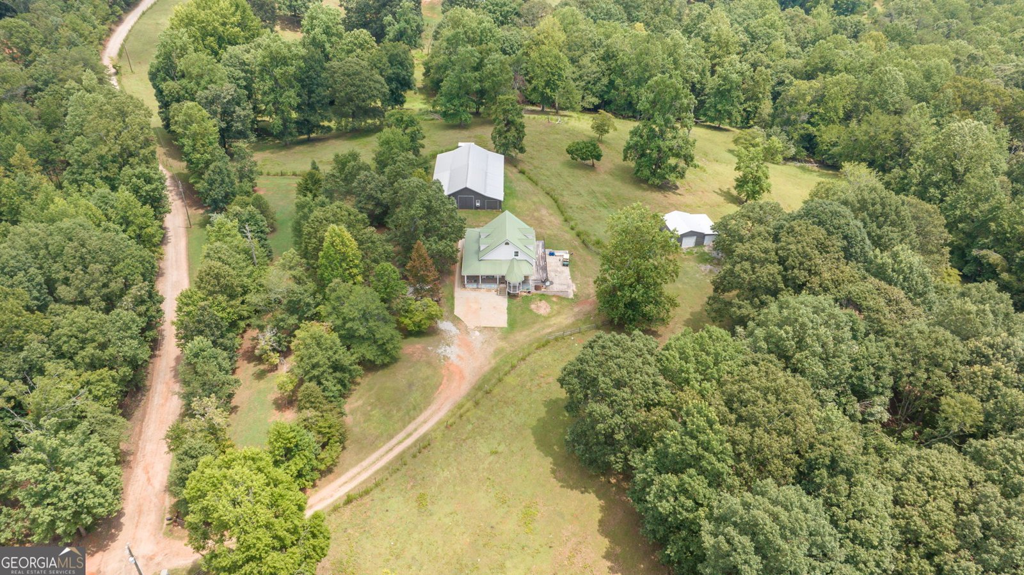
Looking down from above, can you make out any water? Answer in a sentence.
No, the scene doesn't show any water.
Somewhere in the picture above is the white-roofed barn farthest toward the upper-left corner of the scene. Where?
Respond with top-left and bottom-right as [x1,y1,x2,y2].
[431,141,504,210]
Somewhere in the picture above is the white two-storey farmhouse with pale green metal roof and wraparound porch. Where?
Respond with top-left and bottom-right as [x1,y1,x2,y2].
[460,209,535,291]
